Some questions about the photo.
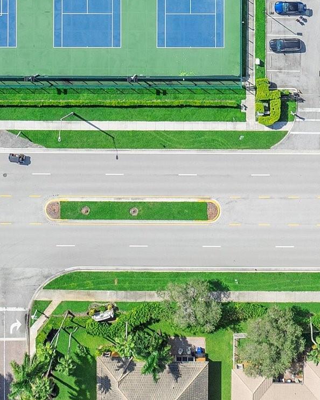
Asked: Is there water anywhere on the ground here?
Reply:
No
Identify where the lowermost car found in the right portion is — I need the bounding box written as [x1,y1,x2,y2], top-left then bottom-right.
[270,39,301,53]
